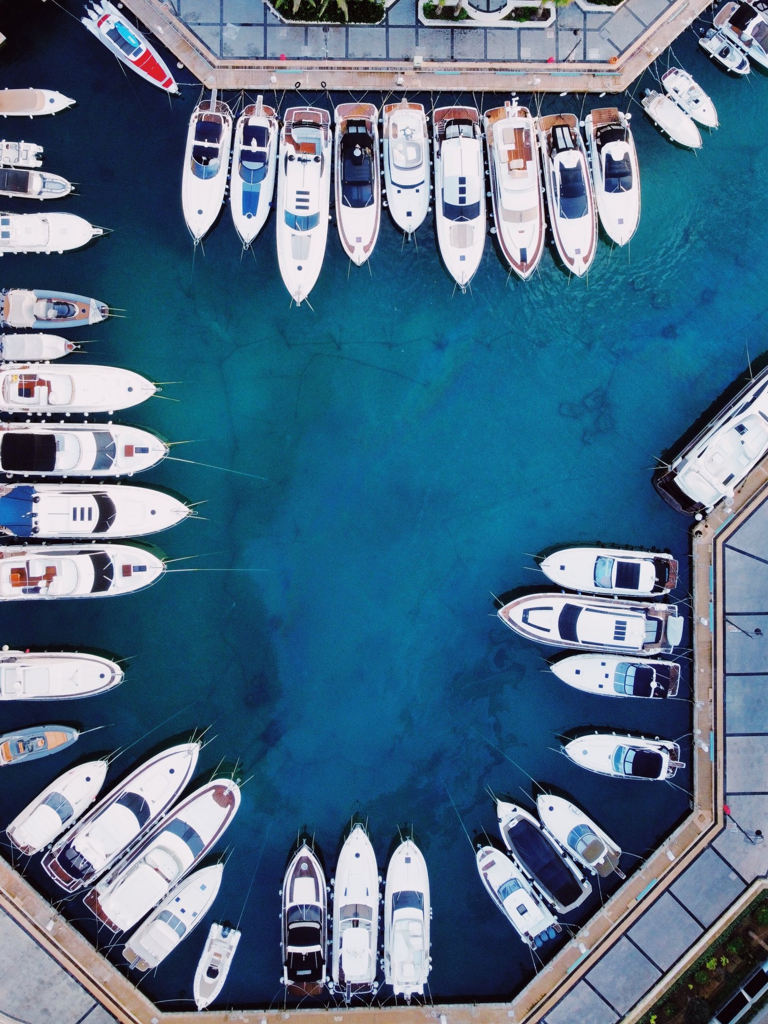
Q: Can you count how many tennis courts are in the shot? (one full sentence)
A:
Not a single tennis court can be seen.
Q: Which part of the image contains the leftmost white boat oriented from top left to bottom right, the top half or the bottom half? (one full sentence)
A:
The leftmost white boat oriented from top left to bottom right is in the top half of the image.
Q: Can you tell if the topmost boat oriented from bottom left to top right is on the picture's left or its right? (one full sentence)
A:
The topmost boat oriented from bottom left to top right appears in the right half of the scene.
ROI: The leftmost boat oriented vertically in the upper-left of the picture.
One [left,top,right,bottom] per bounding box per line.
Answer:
[180,89,231,246]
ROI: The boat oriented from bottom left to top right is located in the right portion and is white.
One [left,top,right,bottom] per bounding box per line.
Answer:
[656,360,768,511]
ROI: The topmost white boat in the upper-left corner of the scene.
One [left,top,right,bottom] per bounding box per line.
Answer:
[84,0,182,97]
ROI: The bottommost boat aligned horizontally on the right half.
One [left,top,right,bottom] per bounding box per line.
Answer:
[559,731,685,782]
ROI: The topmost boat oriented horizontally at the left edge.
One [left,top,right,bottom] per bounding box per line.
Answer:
[0,88,76,117]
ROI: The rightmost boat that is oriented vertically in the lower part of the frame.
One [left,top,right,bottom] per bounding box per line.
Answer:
[667,613,684,648]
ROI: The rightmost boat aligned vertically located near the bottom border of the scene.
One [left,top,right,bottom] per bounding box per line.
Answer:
[385,834,432,1006]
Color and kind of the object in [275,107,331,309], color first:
white boat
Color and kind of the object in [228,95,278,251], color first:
white boat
